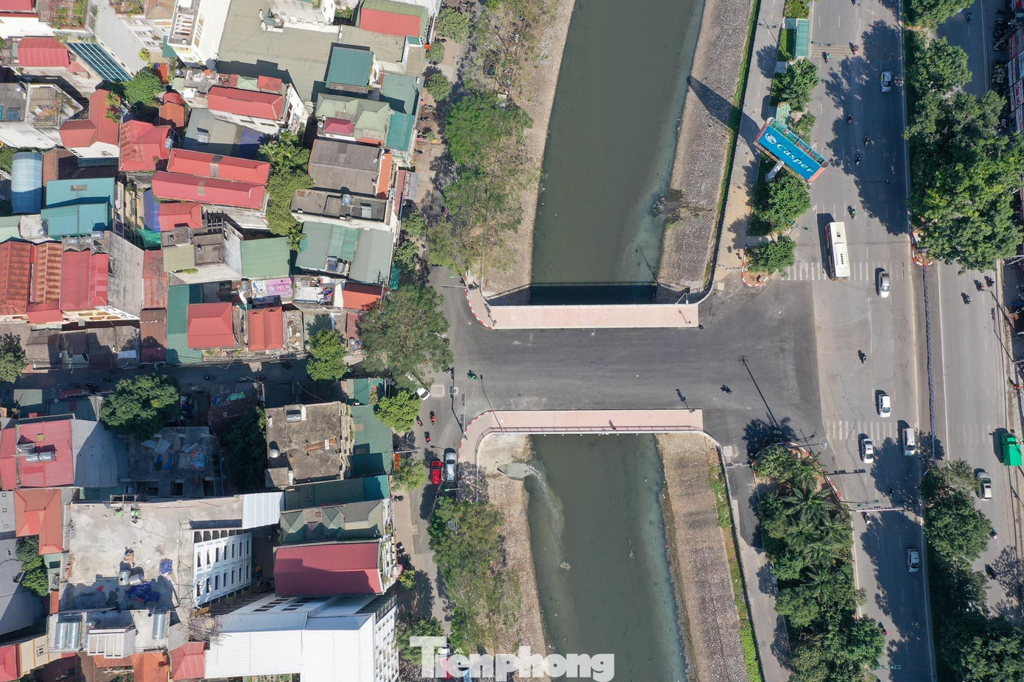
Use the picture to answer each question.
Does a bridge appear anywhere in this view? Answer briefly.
Yes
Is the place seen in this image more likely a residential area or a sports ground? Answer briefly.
residential area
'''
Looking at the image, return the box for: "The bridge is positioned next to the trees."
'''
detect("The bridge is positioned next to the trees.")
[459,272,725,509]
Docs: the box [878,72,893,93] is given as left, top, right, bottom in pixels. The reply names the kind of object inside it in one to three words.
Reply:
car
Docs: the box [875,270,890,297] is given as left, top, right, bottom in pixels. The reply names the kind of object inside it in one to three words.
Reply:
car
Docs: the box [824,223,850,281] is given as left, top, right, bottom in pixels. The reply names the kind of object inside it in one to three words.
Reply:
bus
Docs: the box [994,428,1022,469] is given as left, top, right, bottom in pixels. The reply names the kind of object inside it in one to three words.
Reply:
truck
